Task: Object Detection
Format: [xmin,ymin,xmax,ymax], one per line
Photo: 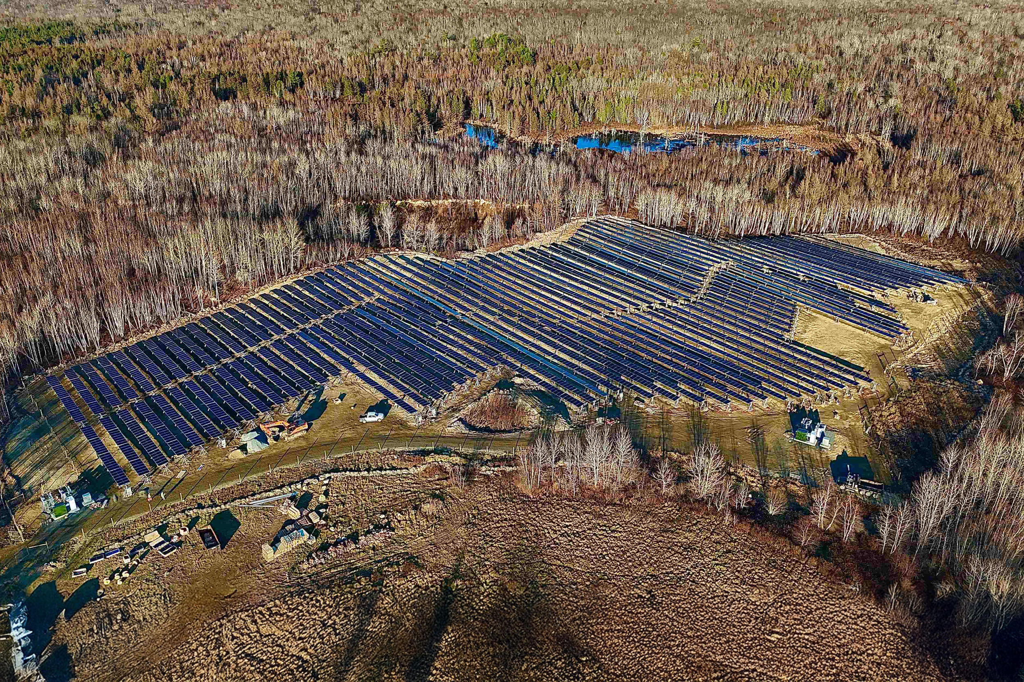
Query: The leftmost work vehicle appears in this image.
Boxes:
[263,420,305,443]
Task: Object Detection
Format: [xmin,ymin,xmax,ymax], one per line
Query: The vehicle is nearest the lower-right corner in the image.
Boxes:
[835,472,887,499]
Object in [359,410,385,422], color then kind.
white vehicle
